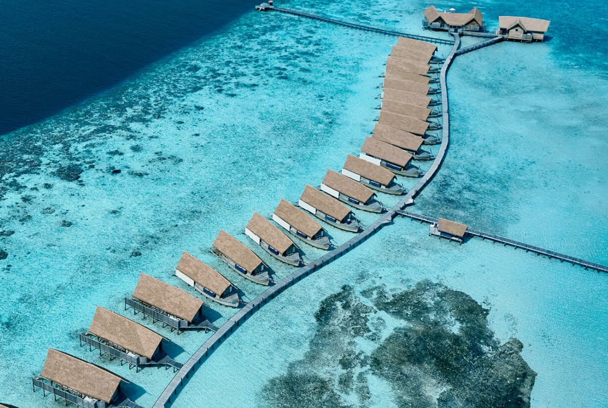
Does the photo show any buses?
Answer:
No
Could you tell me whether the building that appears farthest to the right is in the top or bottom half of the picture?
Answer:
top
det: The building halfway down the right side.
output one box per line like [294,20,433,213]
[424,219,469,249]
